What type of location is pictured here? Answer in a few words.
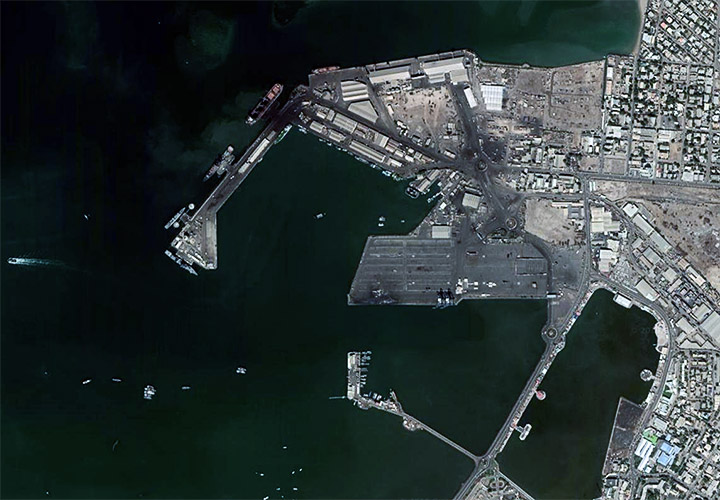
port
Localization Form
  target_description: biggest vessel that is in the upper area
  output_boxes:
[245,84,281,125]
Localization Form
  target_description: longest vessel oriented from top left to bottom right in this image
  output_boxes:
[165,250,198,275]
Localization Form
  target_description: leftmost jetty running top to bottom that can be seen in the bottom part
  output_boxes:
[347,352,361,400]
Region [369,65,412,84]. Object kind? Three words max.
building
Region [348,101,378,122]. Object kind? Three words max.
building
